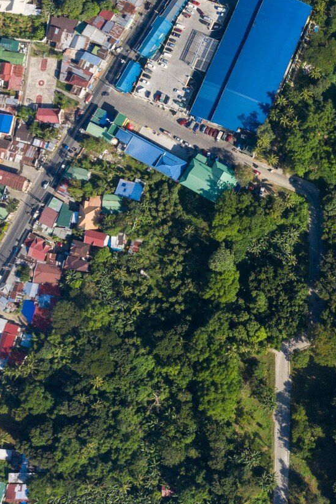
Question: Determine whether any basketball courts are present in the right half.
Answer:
No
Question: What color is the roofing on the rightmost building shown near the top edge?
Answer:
blue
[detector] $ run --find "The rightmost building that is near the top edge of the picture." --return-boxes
[191,0,314,131]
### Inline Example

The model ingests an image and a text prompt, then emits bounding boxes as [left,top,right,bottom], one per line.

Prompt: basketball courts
[21,58,57,104]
